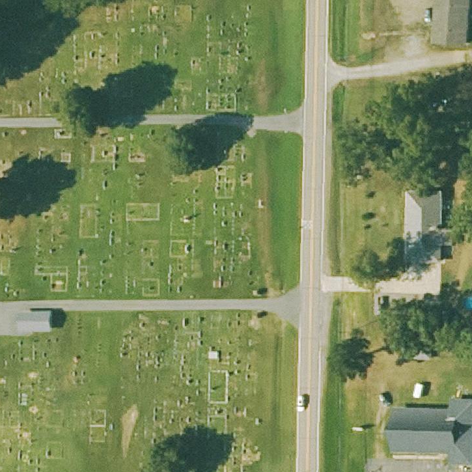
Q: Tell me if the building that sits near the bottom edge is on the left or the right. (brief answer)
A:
right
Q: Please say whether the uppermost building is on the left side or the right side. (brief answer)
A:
right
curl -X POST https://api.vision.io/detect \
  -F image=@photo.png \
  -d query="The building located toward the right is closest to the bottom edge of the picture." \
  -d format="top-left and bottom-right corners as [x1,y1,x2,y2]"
[386,399,472,464]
